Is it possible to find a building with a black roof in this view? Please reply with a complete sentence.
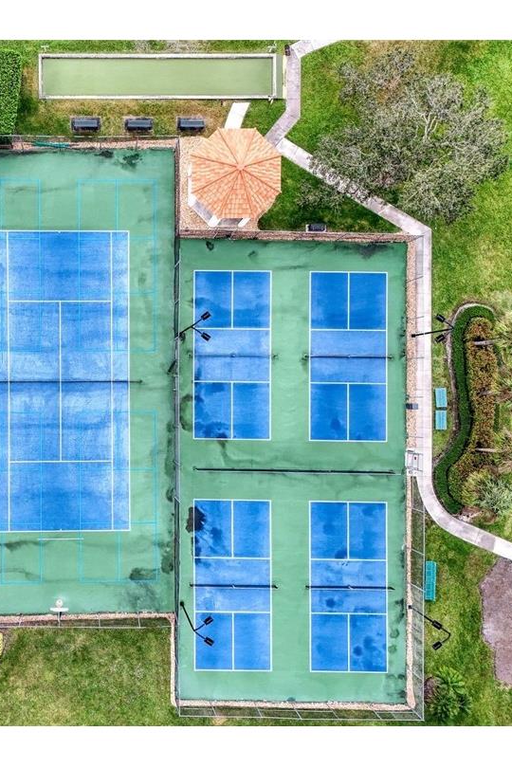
No, the photo shows no building with a black roof.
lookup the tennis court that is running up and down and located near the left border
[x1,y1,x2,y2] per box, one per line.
[0,149,175,618]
